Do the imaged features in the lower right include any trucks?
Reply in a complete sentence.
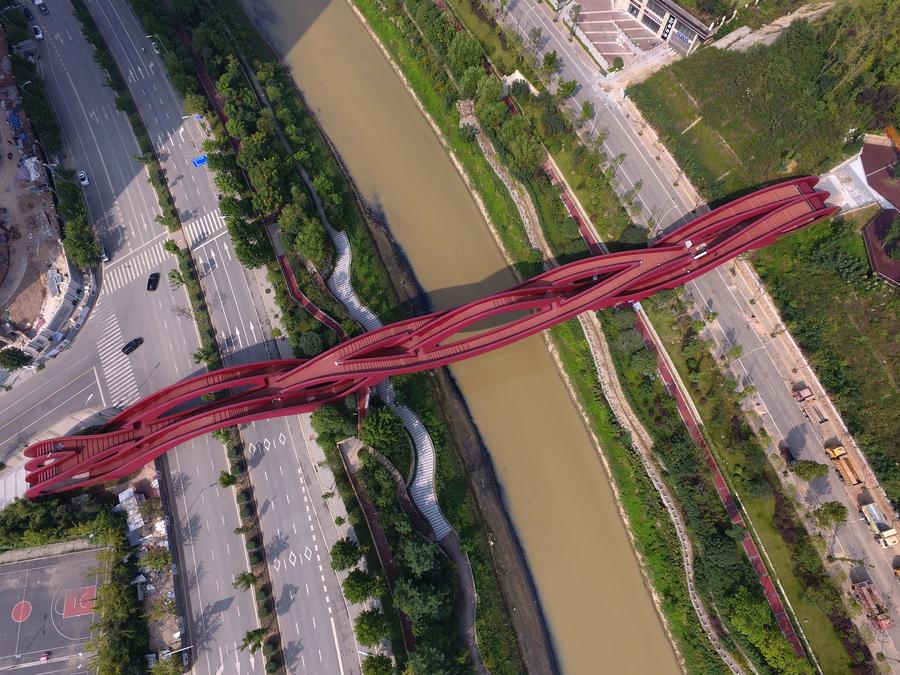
Yes, in the lower right there is a truck.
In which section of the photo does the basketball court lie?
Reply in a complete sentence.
You can find the basketball court in the bottom left area of the picture.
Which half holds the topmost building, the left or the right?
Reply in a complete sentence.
The topmost building is on the right side of the image.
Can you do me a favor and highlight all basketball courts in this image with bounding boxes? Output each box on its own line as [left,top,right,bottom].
[0,549,108,675]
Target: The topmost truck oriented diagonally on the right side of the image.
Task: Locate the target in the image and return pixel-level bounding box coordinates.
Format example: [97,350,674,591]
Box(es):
[796,385,838,425]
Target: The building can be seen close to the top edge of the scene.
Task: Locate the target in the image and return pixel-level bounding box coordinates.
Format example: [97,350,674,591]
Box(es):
[605,0,729,57]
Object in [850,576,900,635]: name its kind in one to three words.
truck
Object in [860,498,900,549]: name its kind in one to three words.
truck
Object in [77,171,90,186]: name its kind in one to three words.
vehicle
